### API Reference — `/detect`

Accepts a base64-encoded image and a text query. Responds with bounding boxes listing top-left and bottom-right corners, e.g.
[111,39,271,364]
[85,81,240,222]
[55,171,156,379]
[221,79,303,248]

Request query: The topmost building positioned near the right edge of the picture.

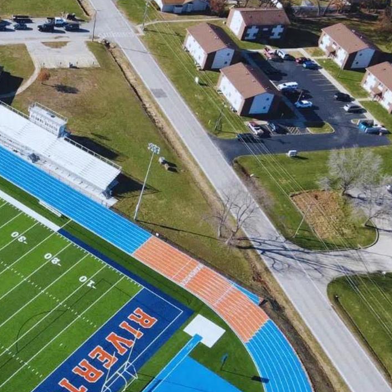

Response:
[317,23,381,69]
